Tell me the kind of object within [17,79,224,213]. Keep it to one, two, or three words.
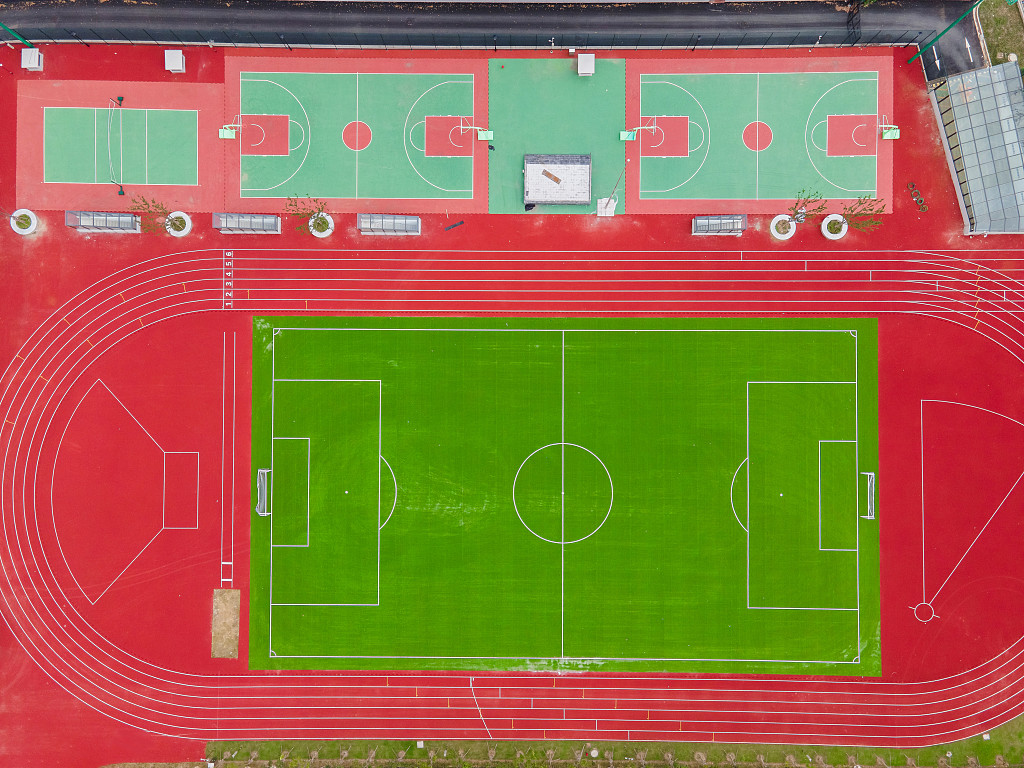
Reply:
sports court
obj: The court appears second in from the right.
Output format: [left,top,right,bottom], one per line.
[224,56,489,214]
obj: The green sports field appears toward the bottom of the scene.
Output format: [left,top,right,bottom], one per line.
[249,316,882,677]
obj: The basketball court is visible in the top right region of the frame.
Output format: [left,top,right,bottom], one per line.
[625,56,894,214]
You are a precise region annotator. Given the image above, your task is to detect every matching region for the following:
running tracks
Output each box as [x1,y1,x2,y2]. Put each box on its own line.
[0,249,1024,748]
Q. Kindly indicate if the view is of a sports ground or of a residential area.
sports ground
